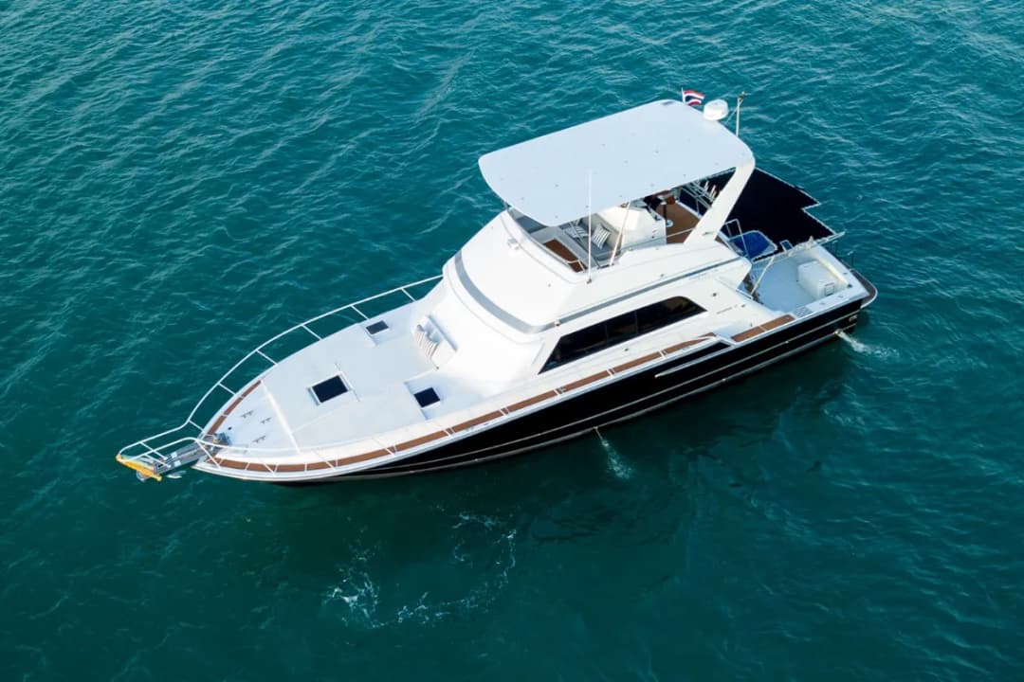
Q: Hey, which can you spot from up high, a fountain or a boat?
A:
boat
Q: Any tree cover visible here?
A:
No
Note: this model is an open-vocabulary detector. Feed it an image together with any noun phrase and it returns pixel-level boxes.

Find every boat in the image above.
[114,89,872,486]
